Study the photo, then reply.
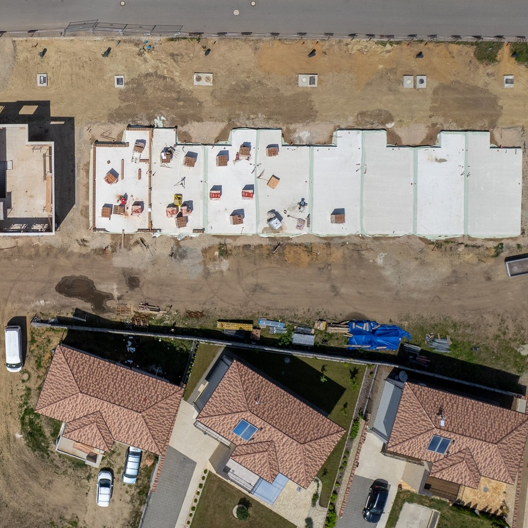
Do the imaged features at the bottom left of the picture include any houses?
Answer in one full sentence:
Yes, a house is visible at the bottom left of the picture.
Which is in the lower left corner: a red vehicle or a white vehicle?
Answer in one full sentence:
What appears in the lower left corner is a white vehicle.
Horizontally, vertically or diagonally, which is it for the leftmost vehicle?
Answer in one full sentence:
I'd say the leftmost vehicle is aligned vertically in the picture.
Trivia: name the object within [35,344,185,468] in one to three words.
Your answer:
house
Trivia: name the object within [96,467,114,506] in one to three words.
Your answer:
car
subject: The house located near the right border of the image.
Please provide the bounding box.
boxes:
[377,377,528,500]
